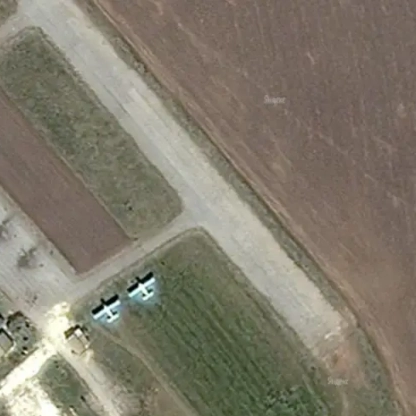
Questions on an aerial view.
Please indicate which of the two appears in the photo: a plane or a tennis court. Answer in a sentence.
It is a plane that can be seen here.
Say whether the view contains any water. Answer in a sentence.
No, water can't be seen anywhere here.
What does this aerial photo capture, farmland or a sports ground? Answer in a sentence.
The area seen from above is farmland.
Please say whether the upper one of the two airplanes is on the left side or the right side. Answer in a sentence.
The upper one of the two airplanes is on the left side of the image.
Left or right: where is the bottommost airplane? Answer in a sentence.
The bottommost airplane sits on the left side.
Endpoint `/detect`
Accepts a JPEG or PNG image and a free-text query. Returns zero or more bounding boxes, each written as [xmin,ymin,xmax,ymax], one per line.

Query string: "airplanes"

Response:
[94,301,120,324]
[129,280,156,303]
